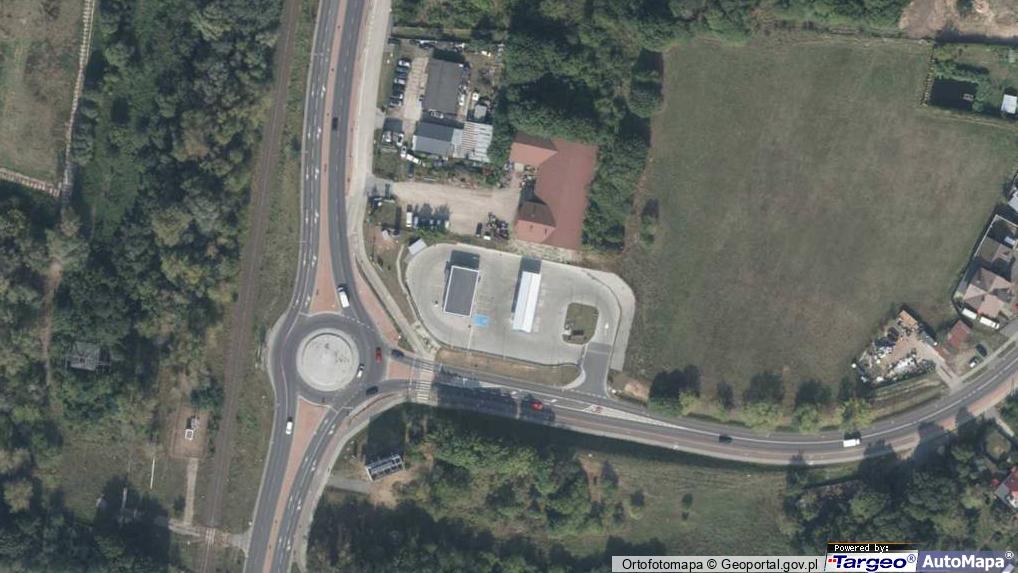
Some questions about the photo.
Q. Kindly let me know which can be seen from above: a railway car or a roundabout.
roundabout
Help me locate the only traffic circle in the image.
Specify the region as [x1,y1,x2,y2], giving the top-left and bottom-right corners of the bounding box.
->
[270,313,385,407]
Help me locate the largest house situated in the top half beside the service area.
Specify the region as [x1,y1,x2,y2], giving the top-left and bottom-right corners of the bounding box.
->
[510,131,597,248]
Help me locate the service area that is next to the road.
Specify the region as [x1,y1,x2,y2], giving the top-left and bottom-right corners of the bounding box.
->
[406,243,635,371]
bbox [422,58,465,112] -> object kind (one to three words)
building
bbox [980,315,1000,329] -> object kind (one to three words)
vehicle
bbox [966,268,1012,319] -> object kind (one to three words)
house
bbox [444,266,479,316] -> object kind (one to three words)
building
